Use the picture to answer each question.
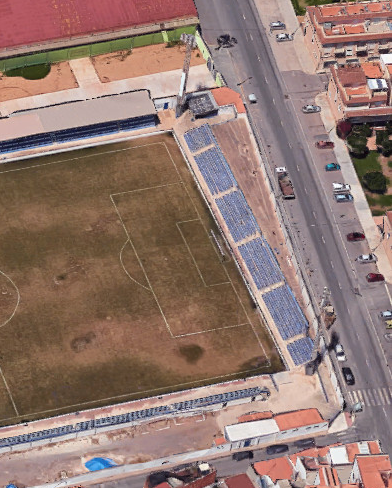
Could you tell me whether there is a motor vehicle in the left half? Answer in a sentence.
No, the scene shows no motor vehicle in the left half.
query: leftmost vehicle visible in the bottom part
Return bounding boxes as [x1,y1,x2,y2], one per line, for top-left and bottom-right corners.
[230,447,256,465]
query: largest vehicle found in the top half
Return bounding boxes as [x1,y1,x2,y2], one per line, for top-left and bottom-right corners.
[276,166,296,198]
